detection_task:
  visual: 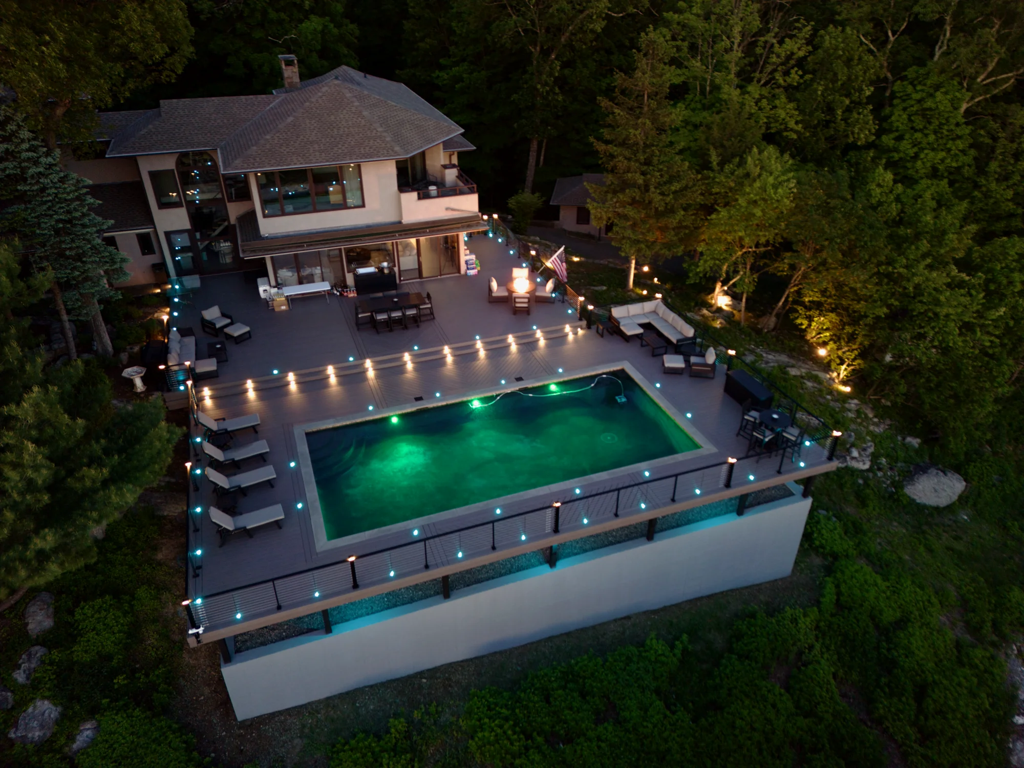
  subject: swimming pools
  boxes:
[294,361,718,551]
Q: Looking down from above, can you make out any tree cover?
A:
Yes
